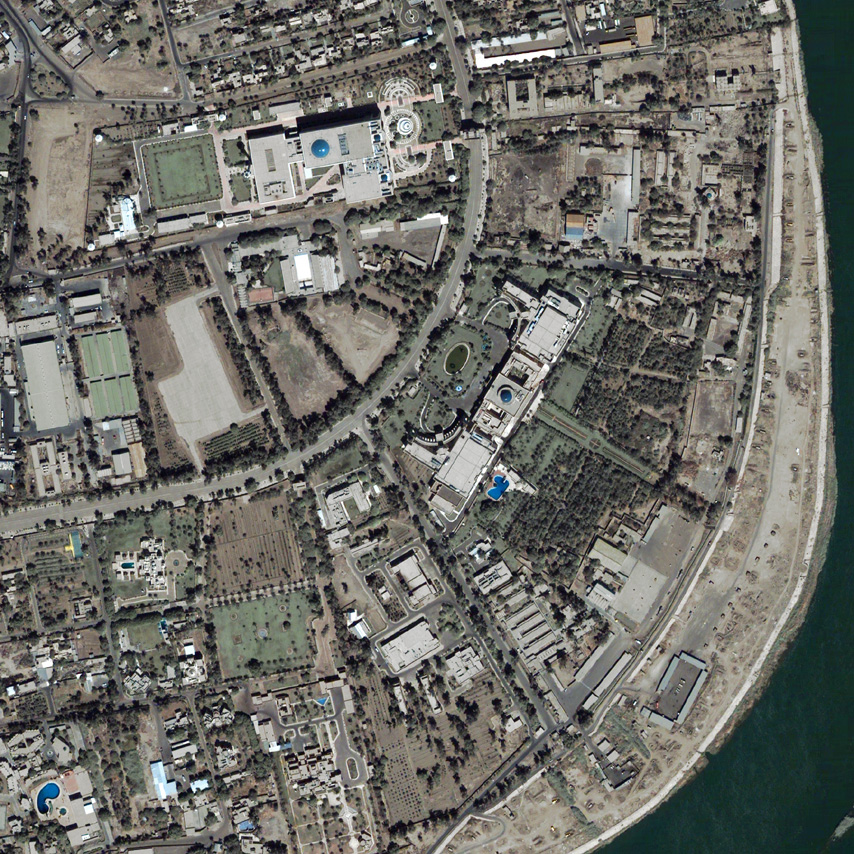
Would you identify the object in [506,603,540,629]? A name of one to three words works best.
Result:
building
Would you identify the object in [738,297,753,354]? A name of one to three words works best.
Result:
shed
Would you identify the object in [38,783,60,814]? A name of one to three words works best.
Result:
swimming pool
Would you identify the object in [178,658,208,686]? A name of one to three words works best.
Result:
house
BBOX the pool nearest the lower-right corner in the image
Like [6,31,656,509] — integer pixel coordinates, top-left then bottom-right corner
[488,475,510,500]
